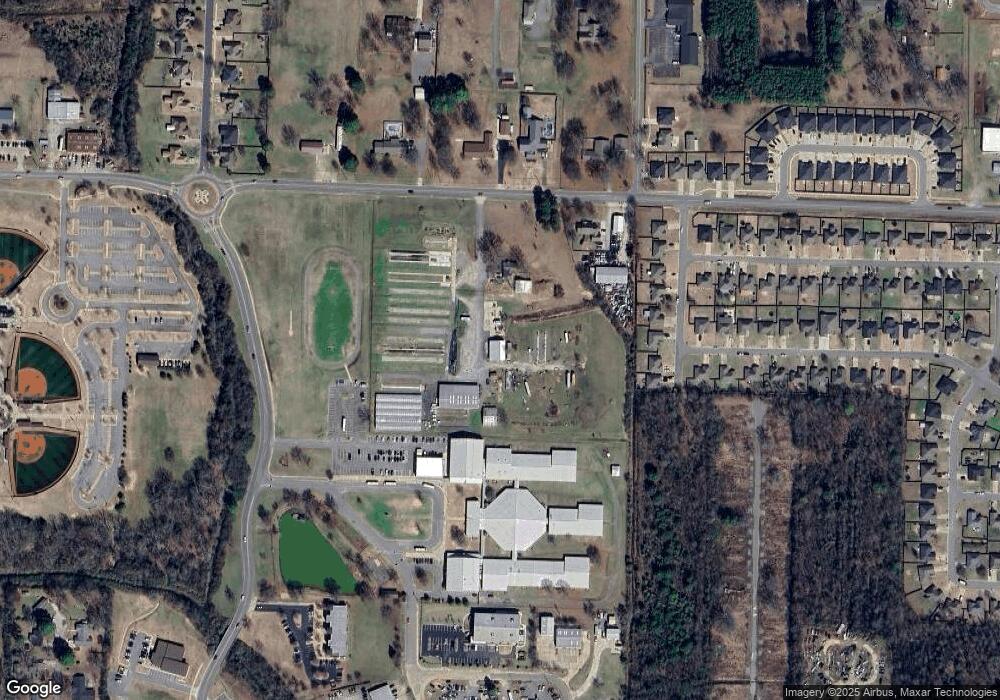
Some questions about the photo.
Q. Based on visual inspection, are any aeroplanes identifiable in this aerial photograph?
No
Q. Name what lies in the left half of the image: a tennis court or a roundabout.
roundabout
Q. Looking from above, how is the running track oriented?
up and down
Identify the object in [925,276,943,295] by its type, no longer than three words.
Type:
house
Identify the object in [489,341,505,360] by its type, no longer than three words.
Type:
barn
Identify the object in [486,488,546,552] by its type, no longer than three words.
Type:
building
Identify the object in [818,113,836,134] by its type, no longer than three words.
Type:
house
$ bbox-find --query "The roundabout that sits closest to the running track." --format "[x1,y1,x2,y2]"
[168,160,237,238]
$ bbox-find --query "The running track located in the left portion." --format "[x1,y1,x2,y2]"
[302,252,361,370]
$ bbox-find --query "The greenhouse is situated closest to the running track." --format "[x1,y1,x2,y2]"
[376,394,421,431]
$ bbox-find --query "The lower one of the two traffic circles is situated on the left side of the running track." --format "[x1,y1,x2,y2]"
[40,282,80,322]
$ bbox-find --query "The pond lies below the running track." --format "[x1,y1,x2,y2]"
[278,511,356,593]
